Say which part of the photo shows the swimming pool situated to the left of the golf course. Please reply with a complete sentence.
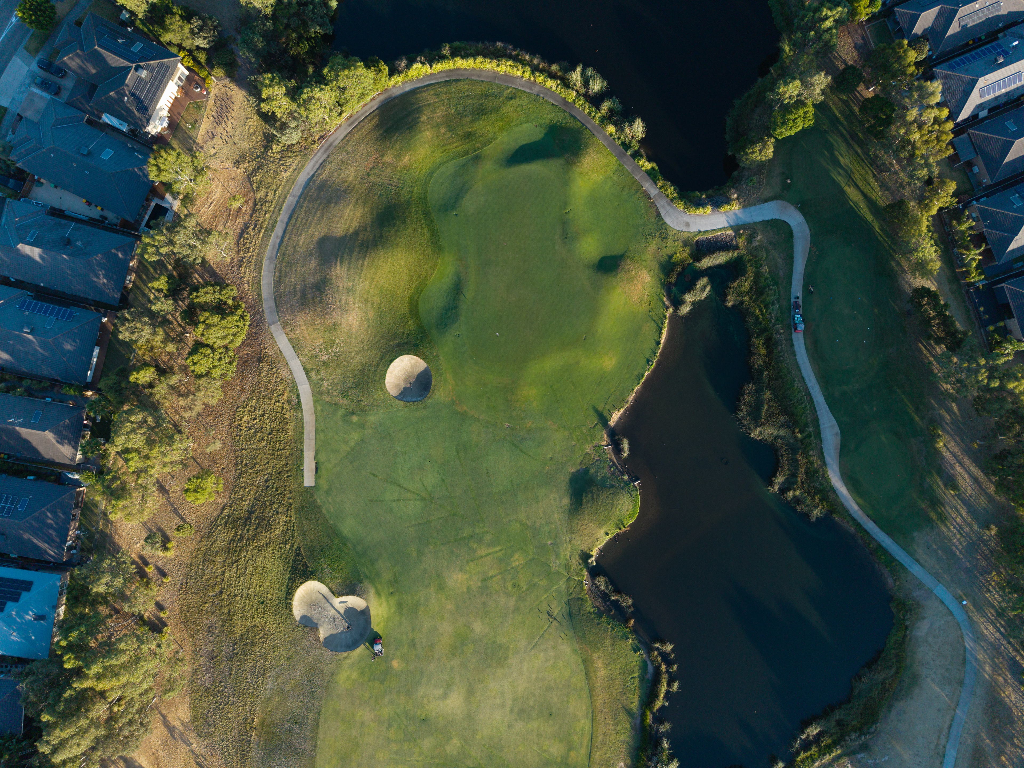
The swimming pool situated to the left of the golf course sits in the top left section of the image.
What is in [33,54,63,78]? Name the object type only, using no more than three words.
car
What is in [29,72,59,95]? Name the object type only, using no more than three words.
car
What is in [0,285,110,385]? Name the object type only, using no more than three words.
house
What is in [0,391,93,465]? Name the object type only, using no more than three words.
house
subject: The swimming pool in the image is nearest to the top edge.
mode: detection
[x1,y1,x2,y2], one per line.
[142,196,178,221]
